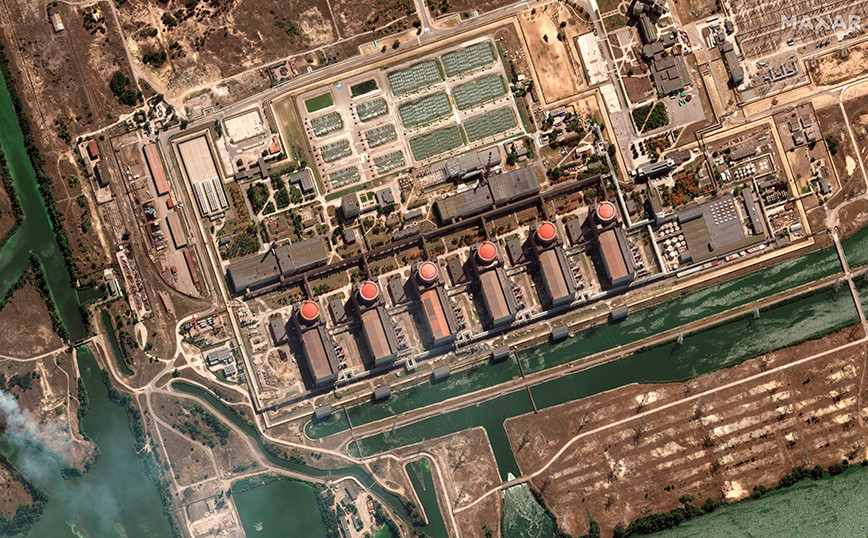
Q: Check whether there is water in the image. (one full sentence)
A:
Yes, water can be seen from above here.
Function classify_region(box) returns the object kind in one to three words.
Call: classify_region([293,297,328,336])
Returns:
building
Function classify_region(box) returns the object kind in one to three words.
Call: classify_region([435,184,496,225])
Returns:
building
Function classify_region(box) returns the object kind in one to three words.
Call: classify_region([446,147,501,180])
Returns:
house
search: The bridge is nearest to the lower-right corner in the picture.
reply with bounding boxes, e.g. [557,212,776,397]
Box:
[833,231,868,337]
